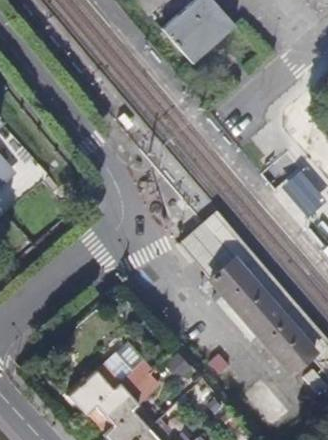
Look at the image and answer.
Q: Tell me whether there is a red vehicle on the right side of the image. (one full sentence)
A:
No, there is no red vehicle on the right side of the image.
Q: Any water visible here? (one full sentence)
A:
No, no water is visible.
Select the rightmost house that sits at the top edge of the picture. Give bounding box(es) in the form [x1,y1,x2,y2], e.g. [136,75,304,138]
[162,0,236,65]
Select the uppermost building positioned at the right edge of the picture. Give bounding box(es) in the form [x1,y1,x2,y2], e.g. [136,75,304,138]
[284,170,326,217]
